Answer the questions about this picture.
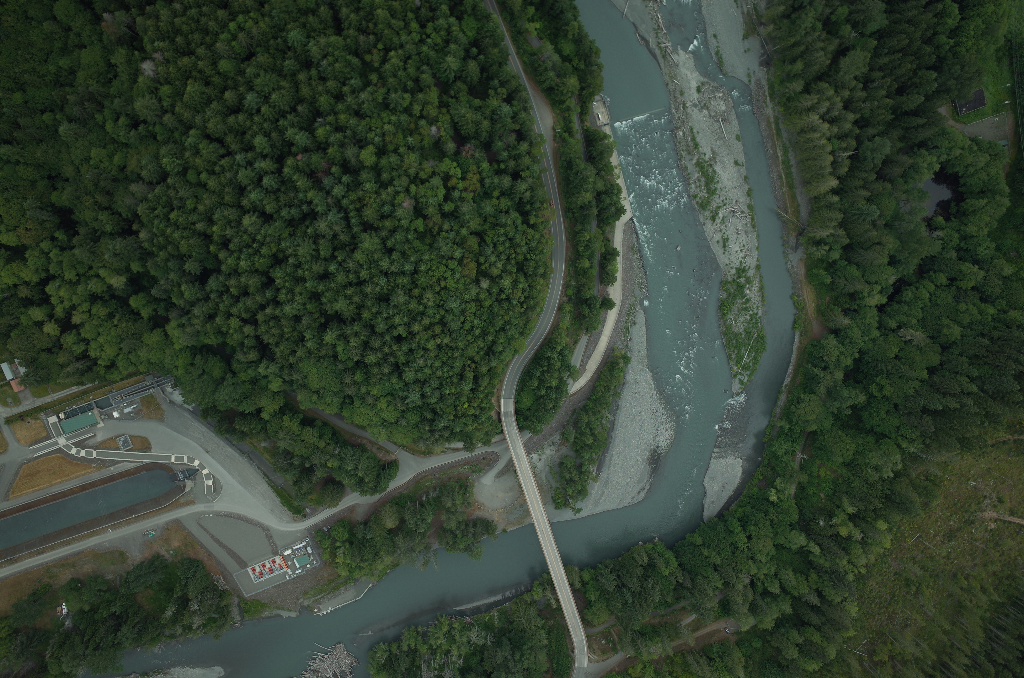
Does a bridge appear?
Yes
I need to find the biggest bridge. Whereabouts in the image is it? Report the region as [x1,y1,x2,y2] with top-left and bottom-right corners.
[500,399,589,668]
